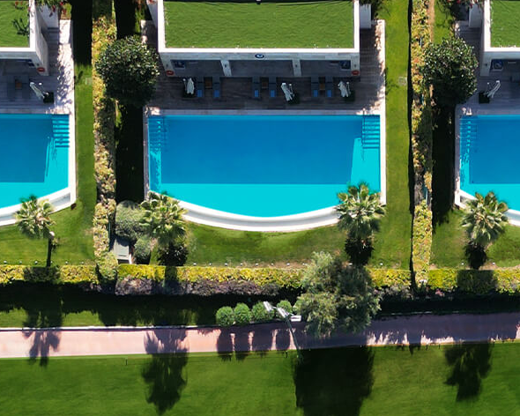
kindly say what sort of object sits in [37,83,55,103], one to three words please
umbrella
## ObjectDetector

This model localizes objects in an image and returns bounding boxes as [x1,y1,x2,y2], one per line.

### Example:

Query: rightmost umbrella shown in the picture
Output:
[478,83,492,105]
